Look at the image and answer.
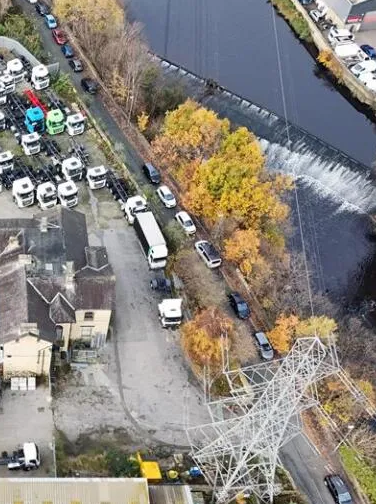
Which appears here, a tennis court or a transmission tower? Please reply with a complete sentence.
Looking from above, you can make out a transmission tower.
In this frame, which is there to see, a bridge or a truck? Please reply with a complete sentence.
The image shows a truck.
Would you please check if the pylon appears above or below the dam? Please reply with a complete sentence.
It's below the dam that the pylon shows up.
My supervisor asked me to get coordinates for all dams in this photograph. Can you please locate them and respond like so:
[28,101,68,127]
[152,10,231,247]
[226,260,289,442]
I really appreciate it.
[149,52,376,219]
